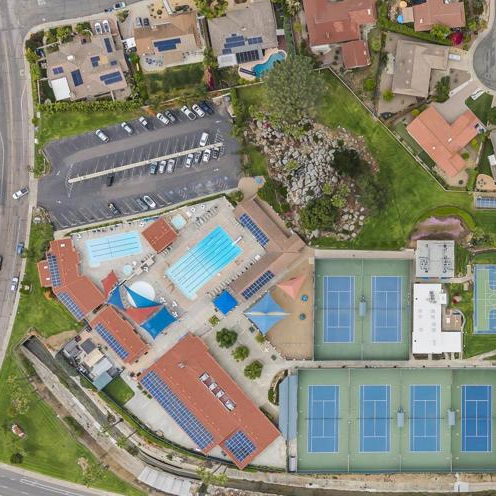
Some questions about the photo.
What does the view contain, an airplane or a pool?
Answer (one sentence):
Visible in the photo is a pool.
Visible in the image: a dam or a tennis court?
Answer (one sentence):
The image shows a tennis court.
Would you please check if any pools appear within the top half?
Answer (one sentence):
Yes, there is a pool within the top half.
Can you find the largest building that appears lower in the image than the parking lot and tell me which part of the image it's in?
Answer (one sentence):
Look in the bottom portion of the view to spot the largest building that appears lower in the image than the parking lot.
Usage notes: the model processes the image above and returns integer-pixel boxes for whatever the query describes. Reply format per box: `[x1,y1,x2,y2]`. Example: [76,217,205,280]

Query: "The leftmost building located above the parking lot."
[46,31,132,98]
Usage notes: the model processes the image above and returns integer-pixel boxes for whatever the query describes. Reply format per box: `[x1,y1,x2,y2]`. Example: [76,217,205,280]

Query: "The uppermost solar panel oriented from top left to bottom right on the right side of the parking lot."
[240,214,268,245]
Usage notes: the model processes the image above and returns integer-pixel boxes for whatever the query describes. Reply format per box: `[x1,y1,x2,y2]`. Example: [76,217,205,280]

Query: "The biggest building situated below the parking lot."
[137,333,281,471]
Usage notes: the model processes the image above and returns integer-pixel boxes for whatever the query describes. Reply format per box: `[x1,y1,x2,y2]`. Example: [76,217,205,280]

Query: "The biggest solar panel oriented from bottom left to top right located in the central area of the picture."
[242,271,273,299]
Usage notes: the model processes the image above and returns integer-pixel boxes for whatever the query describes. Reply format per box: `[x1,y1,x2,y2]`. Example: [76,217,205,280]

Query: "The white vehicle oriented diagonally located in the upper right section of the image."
[470,88,485,100]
